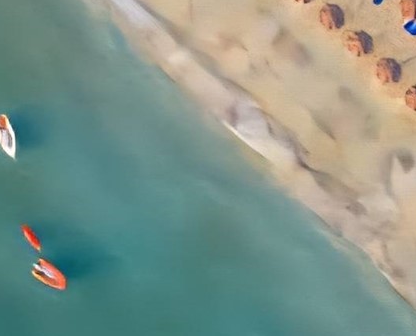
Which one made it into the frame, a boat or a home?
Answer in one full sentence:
This aerial view contains a boat.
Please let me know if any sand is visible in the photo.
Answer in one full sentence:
Yes, sand shows up in the scene.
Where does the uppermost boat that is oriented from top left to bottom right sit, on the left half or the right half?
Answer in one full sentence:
You can find the uppermost boat that is oriented from top left to bottom right on the left side of the picture.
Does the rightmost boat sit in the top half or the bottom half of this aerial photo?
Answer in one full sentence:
You can find the rightmost boat in the bottom half.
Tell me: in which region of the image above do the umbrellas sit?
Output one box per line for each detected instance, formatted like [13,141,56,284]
[401,0,416,17]
[320,5,342,27]
[346,30,369,55]
[404,86,416,109]
[375,58,399,82]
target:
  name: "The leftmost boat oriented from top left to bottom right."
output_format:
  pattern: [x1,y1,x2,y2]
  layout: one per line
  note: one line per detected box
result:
[22,223,41,251]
